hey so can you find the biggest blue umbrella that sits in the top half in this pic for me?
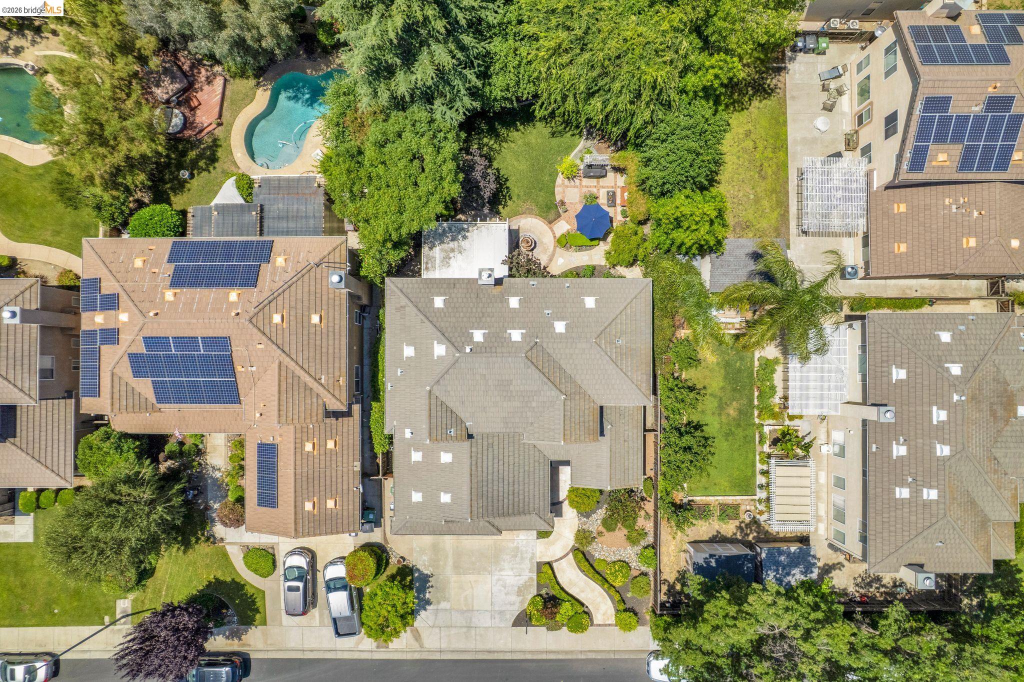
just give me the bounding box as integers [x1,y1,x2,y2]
[574,204,611,241]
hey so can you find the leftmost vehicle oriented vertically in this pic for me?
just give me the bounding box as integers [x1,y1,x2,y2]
[277,551,312,621]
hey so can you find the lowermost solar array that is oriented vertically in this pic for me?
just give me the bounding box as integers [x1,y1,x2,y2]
[257,443,277,508]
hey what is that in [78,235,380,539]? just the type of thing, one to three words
house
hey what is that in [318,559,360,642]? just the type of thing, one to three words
truck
